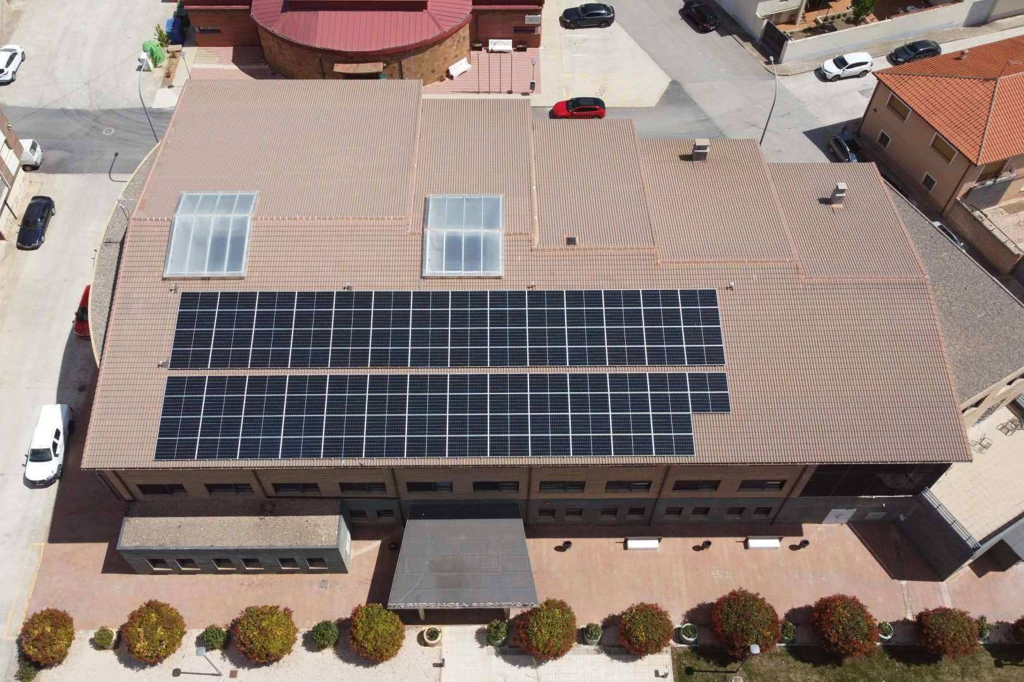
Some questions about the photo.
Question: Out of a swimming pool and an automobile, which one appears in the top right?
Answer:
automobile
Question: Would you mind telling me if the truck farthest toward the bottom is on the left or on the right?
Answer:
left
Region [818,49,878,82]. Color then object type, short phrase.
white car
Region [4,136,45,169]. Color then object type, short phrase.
white van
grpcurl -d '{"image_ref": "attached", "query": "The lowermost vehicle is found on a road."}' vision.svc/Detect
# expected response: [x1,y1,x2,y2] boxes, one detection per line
[21,410,73,496]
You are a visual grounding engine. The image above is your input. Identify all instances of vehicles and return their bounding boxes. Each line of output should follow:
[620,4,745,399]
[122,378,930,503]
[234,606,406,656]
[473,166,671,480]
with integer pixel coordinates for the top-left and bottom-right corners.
[819,126,870,163]
[553,90,608,118]
[12,196,55,251]
[885,34,941,62]
[21,410,73,496]
[561,0,617,28]
[681,3,722,41]
[75,285,94,337]
[818,49,878,82]
[4,136,45,169]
